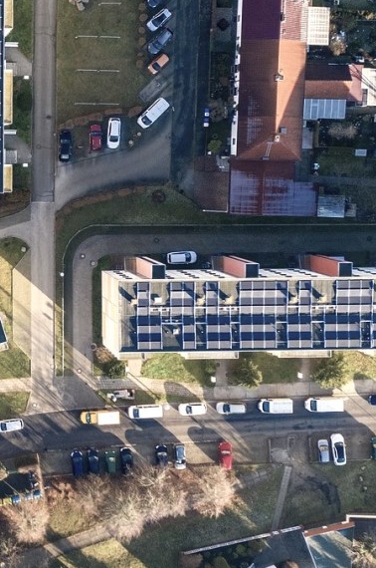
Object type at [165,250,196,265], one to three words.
car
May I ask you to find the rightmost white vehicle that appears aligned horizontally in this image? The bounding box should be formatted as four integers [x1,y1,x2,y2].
[304,396,346,415]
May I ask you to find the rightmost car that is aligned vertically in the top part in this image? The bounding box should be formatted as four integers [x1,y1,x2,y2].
[107,117,122,149]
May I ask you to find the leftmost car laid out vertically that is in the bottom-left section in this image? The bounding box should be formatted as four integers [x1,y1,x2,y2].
[70,449,84,477]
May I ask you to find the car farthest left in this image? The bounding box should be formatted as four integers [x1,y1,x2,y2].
[0,418,24,434]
